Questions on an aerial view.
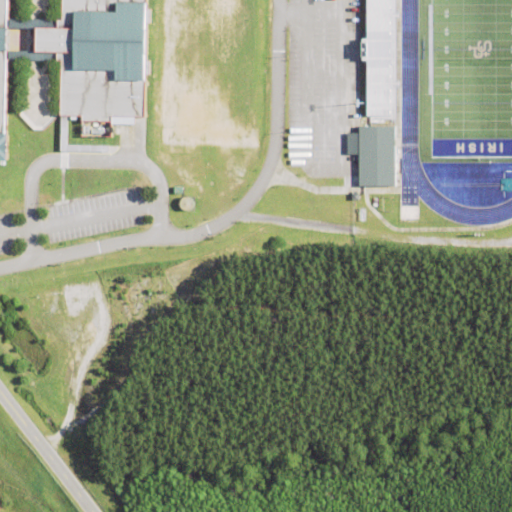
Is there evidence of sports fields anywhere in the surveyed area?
Yes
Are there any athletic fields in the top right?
Yes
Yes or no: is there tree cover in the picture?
Yes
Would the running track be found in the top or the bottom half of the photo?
top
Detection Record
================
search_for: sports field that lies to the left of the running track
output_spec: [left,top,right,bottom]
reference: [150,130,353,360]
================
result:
[160,0,262,150]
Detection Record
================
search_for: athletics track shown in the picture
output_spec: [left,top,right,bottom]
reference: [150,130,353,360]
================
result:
[402,0,512,227]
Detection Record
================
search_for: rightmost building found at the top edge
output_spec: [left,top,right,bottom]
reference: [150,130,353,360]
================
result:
[60,0,146,124]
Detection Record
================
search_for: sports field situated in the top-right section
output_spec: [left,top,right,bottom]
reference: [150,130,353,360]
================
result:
[418,0,512,164]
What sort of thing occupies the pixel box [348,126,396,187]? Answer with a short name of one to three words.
building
